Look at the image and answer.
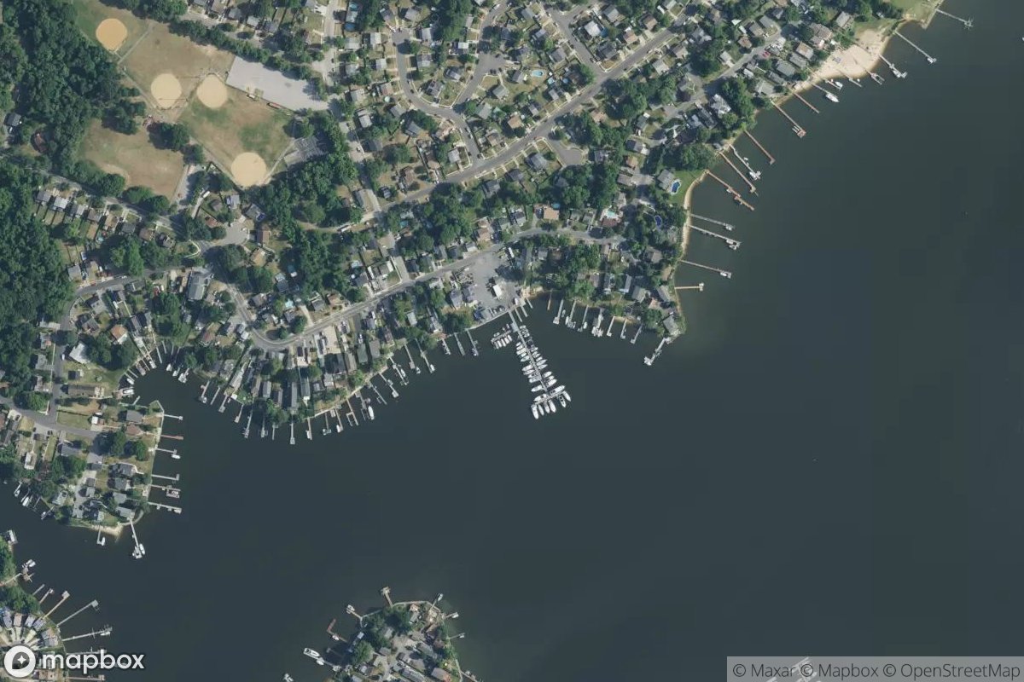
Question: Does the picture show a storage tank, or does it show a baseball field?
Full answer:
There is a baseball field in the scene.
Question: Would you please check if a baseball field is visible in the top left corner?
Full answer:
Yes, the scene does show a baseball field in the top left corner.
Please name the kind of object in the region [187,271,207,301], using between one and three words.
house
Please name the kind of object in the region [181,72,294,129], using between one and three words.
baseball field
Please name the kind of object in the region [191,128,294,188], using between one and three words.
baseball field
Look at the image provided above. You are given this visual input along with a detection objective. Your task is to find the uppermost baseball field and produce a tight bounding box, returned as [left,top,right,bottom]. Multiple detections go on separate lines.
[74,0,148,61]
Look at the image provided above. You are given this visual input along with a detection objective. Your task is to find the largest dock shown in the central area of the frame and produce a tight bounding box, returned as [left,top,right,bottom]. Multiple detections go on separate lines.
[491,307,564,404]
